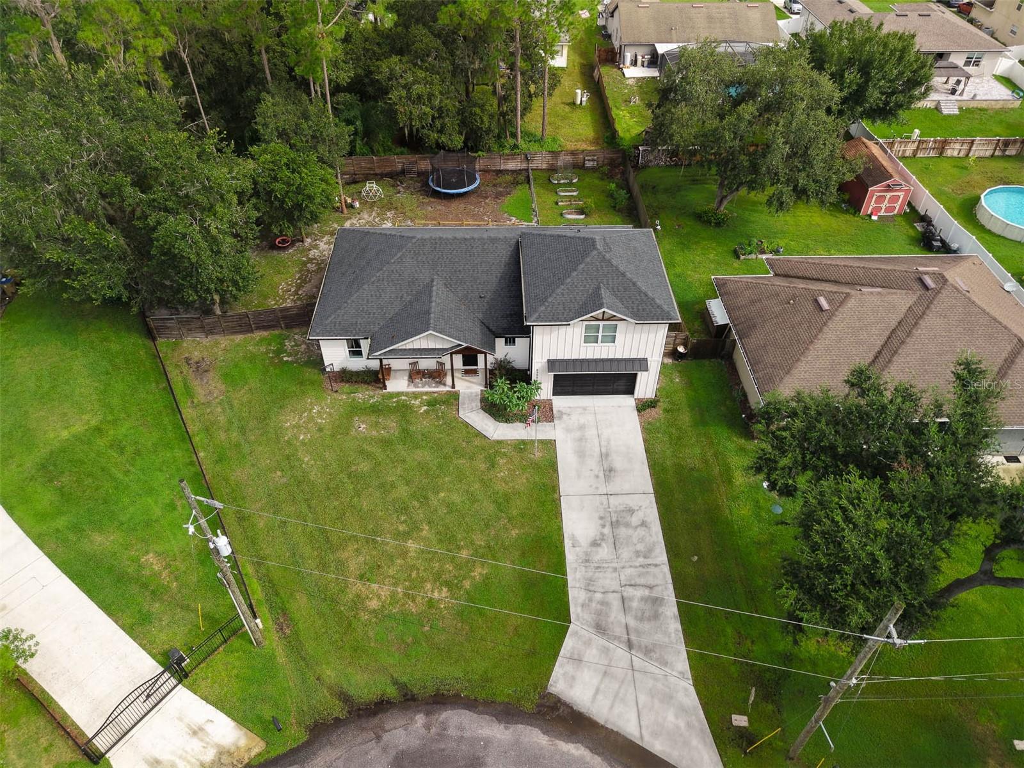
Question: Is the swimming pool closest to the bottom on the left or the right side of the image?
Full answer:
The swimming pool closest to the bottom is on the right side of the image.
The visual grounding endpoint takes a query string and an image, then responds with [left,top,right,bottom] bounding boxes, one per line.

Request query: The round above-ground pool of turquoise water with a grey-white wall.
[974,186,1024,243]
